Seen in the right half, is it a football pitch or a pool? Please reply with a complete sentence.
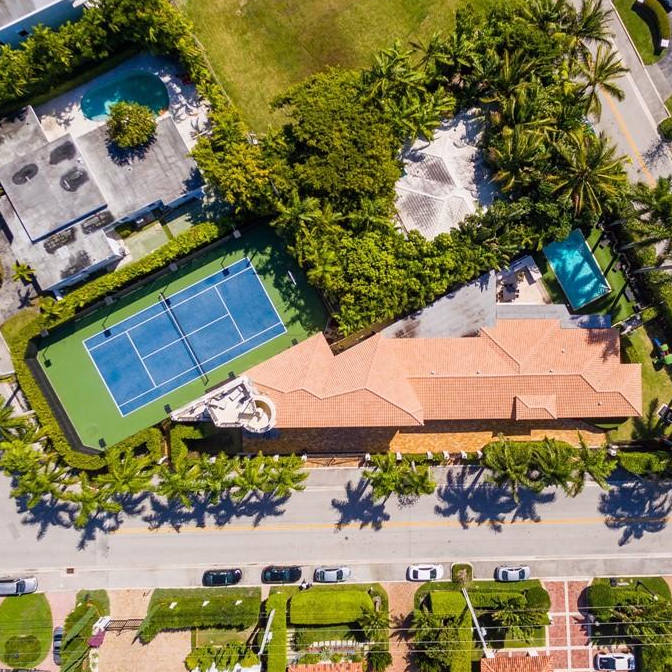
The feature located in the right half is a pool.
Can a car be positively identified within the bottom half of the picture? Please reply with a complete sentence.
Yes, there is a car within the bottom half of the picture.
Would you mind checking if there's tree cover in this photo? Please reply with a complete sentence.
Yes, tree cover can be seen from above here.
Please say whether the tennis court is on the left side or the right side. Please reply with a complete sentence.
It is on the left.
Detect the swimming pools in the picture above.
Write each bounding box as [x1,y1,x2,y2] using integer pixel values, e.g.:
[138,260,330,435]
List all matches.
[543,227,614,313]
[79,68,172,125]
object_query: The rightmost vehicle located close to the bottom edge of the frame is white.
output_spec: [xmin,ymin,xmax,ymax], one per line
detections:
[595,651,636,672]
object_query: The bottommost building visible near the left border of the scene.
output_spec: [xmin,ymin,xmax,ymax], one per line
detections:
[0,107,205,290]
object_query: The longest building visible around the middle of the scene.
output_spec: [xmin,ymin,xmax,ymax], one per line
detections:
[170,271,643,428]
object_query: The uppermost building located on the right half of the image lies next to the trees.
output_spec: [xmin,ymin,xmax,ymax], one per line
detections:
[395,117,481,243]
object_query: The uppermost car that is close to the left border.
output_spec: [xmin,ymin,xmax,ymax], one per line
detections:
[0,575,39,596]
